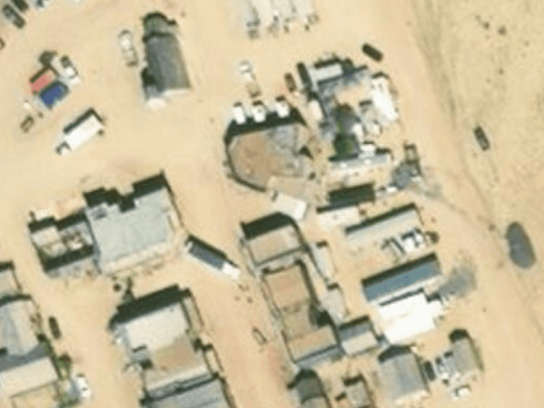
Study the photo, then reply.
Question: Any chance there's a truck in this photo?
Yes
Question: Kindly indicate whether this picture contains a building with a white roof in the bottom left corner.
Yes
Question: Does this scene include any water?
No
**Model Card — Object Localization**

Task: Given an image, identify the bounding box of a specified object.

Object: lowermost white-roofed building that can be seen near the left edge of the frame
[0,344,58,400]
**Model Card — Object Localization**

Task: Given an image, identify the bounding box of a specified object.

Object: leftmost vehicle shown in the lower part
[47,317,62,340]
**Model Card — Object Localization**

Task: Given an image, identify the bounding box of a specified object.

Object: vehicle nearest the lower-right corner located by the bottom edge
[453,386,471,399]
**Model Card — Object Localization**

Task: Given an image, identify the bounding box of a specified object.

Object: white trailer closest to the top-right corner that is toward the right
[372,74,401,124]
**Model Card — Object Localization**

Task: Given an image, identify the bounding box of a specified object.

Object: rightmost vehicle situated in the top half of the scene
[473,127,489,151]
